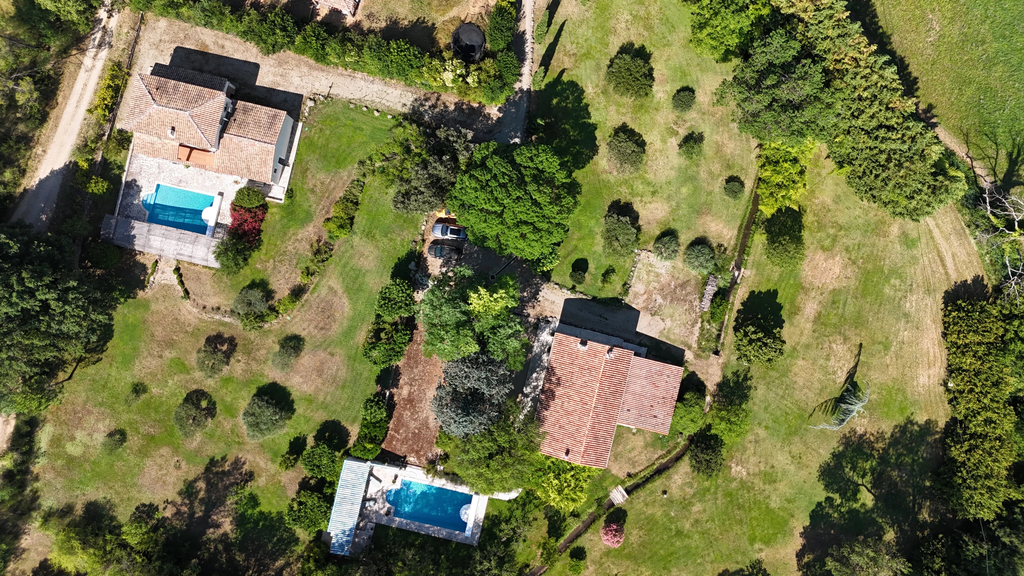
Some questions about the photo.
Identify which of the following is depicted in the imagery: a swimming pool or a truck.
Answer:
swimming pool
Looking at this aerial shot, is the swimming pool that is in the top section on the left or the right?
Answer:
left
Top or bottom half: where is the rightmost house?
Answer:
bottom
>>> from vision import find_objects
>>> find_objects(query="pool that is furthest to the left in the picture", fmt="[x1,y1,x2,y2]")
[138,181,222,237]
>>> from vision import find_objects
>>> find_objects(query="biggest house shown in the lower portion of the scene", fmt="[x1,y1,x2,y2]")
[534,332,684,469]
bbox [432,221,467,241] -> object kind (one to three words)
car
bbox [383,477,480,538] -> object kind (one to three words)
swimming pool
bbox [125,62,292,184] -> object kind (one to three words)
house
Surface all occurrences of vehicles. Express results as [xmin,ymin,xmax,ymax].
[432,221,467,241]
[427,243,464,262]
[440,205,461,220]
